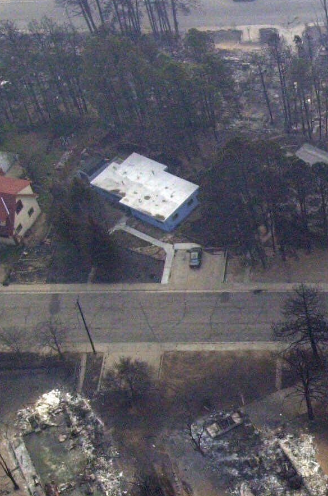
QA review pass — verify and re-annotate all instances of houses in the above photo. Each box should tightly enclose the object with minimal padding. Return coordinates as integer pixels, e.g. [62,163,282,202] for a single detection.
[0,162,47,244]
[90,153,197,231]
[293,137,328,168]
